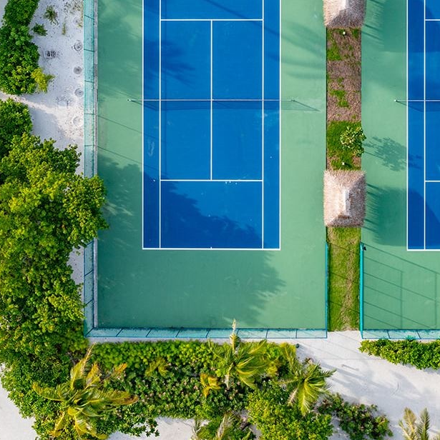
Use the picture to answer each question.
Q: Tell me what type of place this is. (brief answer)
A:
sports ground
